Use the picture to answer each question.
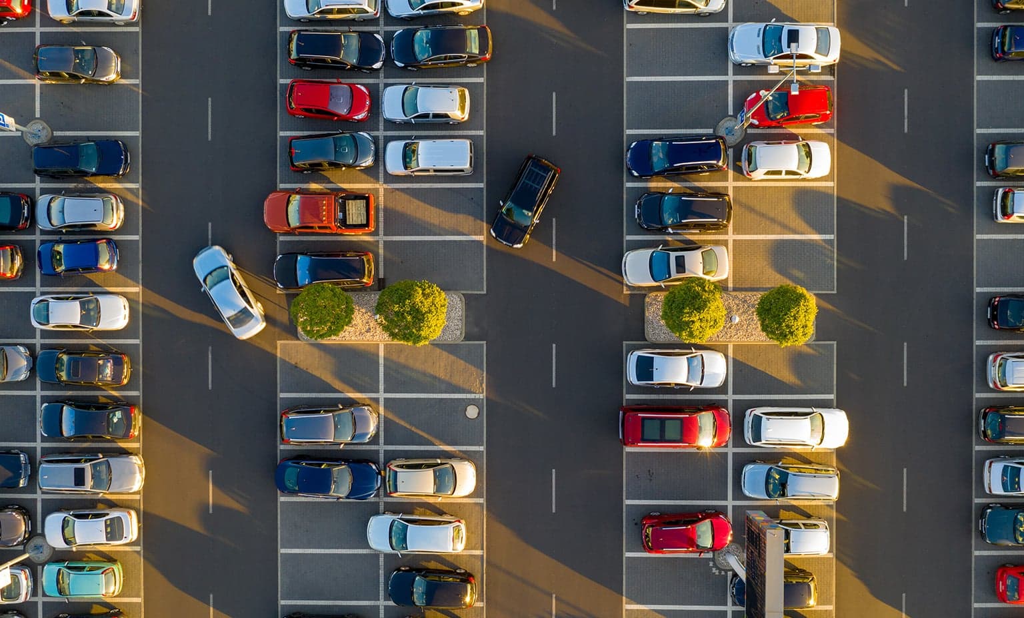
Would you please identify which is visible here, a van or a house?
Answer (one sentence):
This aerial view contains a van.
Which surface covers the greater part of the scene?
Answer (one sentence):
The largest share of the image is taken up by paved ground.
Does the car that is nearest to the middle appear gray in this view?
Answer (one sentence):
No, from above the car that is nearest to the middle looks black.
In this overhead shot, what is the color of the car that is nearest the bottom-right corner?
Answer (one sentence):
The car that is nearest the bottom-right corner is red.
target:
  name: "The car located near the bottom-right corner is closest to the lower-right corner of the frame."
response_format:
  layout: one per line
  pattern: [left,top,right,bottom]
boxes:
[994,561,1024,604]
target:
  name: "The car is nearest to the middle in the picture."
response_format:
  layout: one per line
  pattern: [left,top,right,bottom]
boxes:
[490,153,562,247]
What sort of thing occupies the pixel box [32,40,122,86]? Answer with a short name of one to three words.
car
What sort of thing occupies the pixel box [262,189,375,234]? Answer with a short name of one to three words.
truck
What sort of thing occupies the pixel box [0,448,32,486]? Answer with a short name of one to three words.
car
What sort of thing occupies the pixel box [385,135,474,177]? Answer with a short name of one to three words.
van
